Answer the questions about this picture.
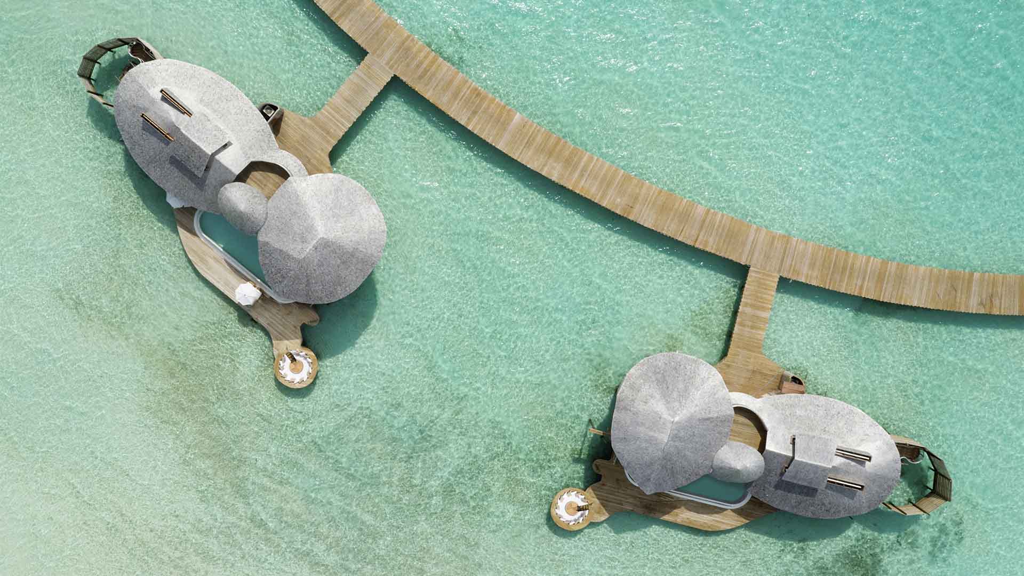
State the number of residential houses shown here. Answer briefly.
2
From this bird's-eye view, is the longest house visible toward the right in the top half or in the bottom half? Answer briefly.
bottom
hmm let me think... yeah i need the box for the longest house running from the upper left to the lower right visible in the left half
[113,58,386,304]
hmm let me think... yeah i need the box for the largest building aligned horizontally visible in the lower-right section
[610,351,901,519]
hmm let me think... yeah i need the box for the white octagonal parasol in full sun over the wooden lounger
[236,282,261,307]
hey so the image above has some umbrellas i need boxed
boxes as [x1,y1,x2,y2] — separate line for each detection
[236,282,261,307]
[167,193,186,207]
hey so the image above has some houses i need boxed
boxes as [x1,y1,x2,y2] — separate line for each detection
[610,351,901,519]
[113,58,386,304]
